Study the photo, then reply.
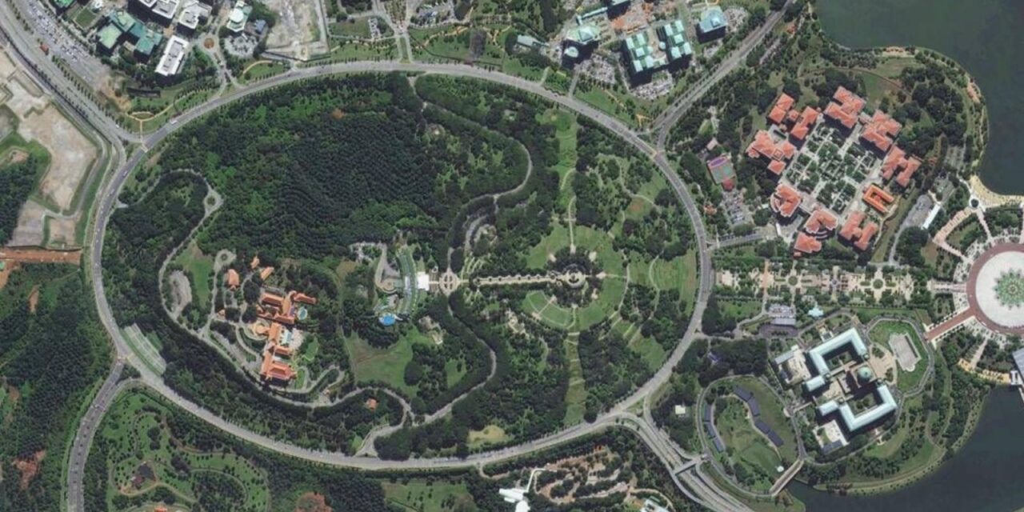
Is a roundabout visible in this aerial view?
Yes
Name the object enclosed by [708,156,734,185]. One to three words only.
tennis court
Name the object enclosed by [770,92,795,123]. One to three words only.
building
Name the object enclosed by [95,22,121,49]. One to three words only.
building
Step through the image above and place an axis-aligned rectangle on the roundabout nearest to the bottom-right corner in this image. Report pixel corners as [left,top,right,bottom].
[963,240,1024,338]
